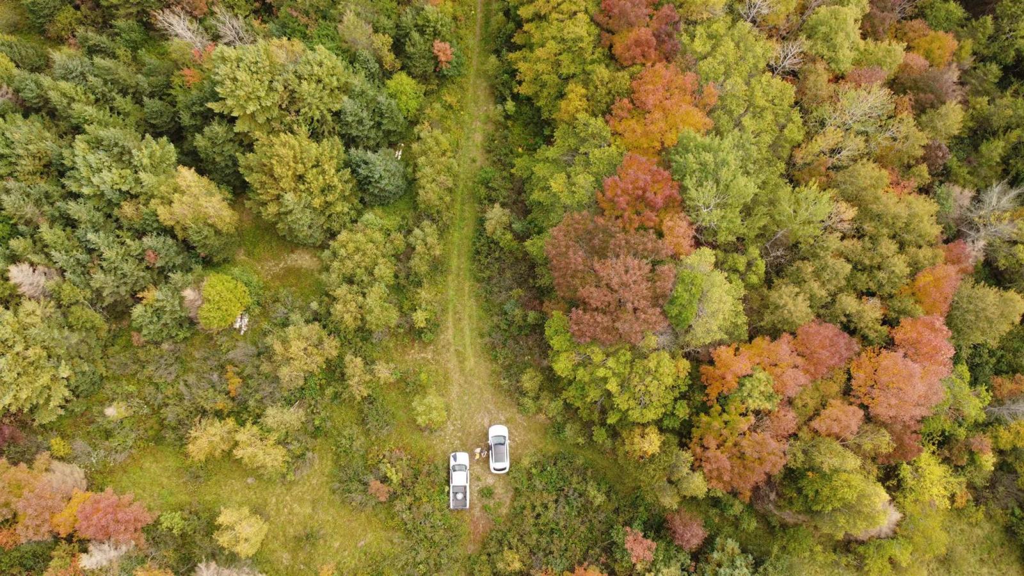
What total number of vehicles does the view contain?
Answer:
2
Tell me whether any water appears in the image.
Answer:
No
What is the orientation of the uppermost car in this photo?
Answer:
vertically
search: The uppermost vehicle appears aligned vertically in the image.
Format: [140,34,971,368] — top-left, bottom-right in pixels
[487,424,510,474]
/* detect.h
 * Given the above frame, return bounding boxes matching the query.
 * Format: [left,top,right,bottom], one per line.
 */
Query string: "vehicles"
[447,451,471,511]
[487,424,510,474]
